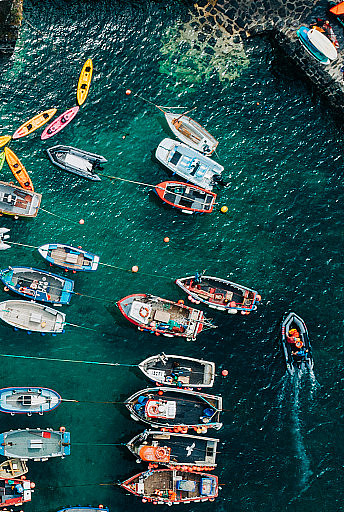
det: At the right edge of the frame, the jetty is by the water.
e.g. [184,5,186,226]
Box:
[249,0,344,124]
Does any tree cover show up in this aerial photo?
No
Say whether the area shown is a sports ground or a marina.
marina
